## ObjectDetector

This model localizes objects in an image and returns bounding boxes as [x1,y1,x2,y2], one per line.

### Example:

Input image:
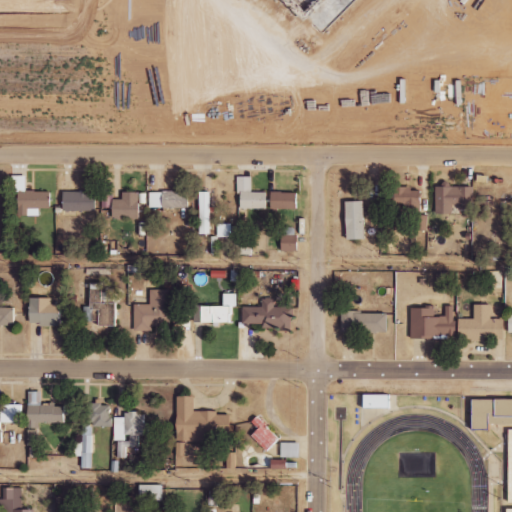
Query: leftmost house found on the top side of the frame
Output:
[14,175,50,220]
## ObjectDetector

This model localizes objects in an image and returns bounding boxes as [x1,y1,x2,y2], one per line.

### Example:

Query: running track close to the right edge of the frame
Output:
[344,414,489,512]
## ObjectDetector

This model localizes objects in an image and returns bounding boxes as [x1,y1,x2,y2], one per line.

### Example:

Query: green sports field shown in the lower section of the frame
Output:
[362,431,472,512]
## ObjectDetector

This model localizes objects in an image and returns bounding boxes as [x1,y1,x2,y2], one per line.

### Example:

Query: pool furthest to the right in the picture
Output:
[194,272,209,287]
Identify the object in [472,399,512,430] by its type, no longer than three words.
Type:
building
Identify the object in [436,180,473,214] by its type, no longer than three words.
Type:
house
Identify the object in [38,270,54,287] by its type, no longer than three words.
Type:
swimming pool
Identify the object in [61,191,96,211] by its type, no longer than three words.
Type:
house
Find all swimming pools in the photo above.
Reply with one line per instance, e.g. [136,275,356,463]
[194,272,209,287]
[38,270,54,287]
